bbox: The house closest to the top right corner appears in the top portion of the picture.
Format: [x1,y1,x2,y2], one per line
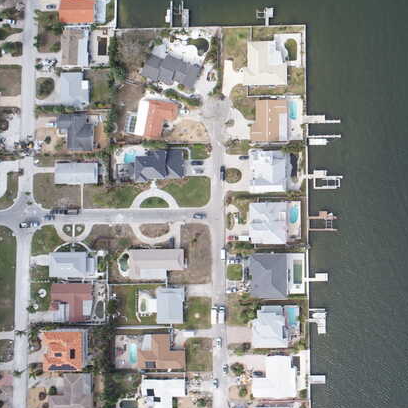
[245,40,287,85]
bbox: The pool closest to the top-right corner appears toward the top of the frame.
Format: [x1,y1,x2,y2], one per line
[284,38,298,62]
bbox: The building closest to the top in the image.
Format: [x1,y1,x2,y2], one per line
[58,0,108,24]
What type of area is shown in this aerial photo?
residential area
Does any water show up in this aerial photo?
Yes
